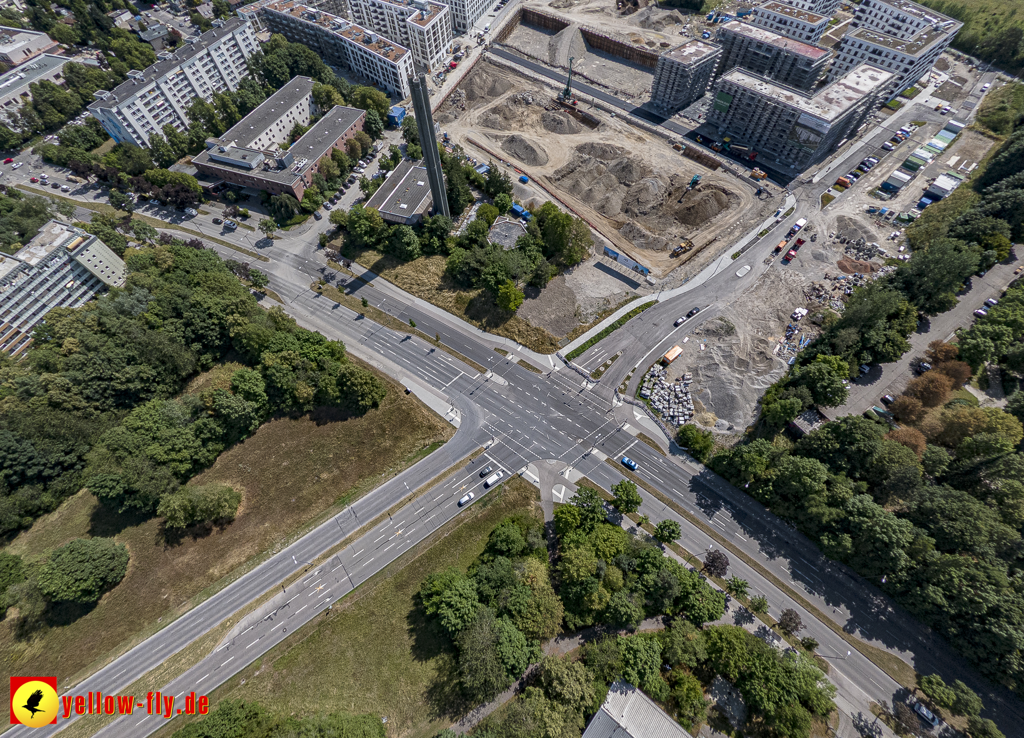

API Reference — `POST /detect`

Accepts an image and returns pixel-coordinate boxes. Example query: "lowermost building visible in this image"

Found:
[580,682,677,738]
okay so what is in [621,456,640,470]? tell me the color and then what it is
blue car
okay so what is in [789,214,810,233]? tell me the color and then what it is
white vehicle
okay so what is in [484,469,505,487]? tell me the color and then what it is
white vehicle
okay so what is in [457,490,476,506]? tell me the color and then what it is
white car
